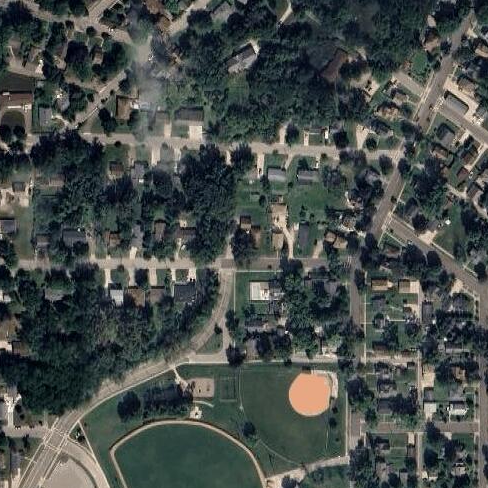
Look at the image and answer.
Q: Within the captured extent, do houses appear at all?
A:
Yes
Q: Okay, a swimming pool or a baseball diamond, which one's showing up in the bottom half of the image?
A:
baseball diamond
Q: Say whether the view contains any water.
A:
No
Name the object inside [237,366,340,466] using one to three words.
baseball field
